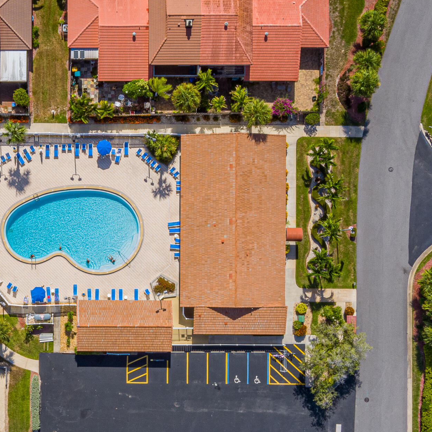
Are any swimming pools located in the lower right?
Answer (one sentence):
No, in the lower right there is no swimming pool.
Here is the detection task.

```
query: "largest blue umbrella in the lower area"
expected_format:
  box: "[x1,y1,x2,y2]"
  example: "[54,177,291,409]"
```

[30,287,46,302]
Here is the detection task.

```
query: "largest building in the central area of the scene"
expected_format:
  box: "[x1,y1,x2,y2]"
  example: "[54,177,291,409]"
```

[180,132,303,334]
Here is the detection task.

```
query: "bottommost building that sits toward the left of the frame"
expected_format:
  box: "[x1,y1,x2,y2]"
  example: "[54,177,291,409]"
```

[76,300,173,354]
